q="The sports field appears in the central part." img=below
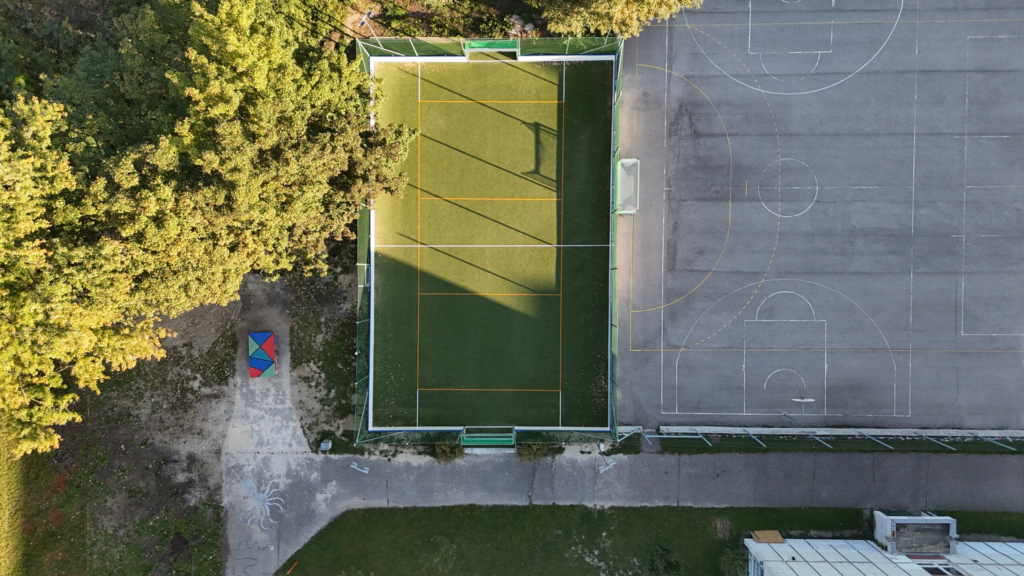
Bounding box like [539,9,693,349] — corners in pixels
[373,48,613,447]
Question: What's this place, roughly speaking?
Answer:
sports ground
